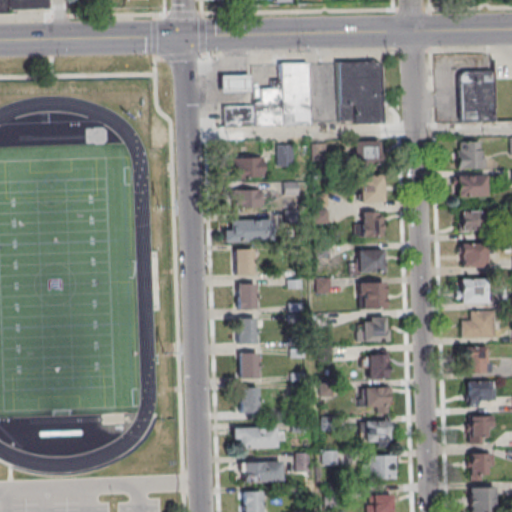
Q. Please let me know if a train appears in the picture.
No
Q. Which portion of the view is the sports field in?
left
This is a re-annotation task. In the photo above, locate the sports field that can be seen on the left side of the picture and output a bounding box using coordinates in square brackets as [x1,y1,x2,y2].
[0,144,140,418]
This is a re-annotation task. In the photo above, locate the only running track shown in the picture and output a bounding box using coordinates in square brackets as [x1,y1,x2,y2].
[0,96,160,477]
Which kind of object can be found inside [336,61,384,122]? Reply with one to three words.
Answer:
building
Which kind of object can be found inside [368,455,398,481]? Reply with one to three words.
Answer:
house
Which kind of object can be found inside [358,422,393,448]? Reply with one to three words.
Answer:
house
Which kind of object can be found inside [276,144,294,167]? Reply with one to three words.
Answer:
building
